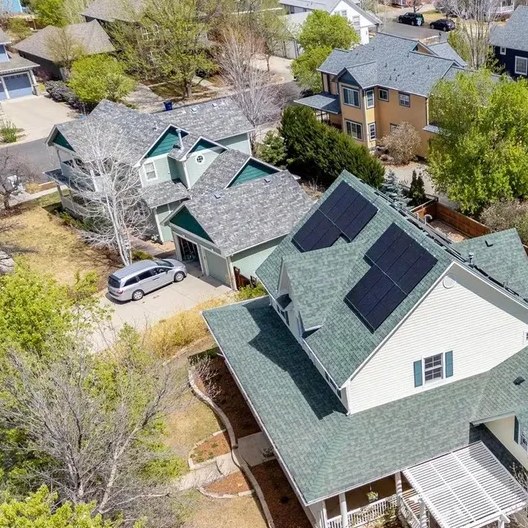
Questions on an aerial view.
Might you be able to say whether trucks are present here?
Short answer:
No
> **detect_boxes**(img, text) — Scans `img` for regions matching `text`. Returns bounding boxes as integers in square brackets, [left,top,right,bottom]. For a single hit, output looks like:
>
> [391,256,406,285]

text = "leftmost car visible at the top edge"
[397,10,428,26]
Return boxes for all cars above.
[397,10,428,26]
[427,15,457,31]
[102,257,189,300]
